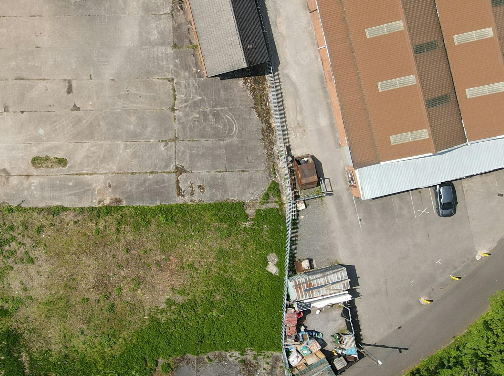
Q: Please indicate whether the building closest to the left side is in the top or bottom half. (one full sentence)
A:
The building closest to the left side sits in the top half of the picture.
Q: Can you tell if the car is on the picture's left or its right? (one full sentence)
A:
The car sits on the right side.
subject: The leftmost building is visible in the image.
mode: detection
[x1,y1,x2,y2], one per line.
[185,0,270,78]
